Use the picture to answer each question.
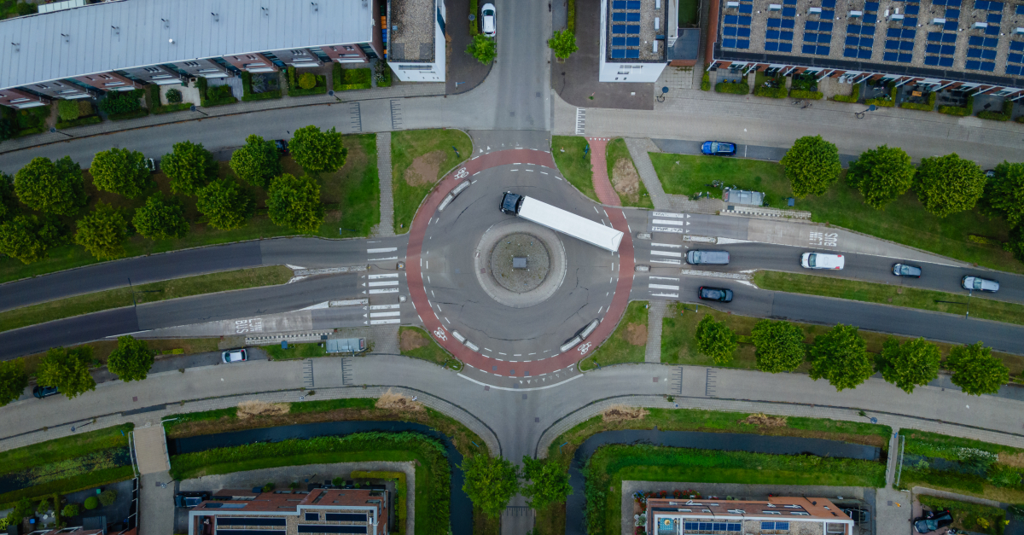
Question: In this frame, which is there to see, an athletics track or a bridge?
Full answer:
The image shows a bridge.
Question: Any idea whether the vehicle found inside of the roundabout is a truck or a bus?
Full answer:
It turns out the vehicle found inside of the roundabout is a truck.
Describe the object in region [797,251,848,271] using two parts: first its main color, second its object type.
white vehicle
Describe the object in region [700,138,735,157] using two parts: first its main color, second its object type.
blue car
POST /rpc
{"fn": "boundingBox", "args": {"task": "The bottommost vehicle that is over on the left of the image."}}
[175,490,209,508]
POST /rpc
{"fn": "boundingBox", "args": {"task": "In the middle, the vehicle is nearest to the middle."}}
[500,190,623,253]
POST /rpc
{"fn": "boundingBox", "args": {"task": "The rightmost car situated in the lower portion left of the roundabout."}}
[223,348,249,363]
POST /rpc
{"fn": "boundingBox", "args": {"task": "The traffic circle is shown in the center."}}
[405,130,635,388]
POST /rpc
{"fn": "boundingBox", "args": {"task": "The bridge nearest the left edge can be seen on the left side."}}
[127,420,175,477]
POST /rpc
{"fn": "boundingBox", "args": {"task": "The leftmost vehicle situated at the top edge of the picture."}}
[480,4,497,38]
